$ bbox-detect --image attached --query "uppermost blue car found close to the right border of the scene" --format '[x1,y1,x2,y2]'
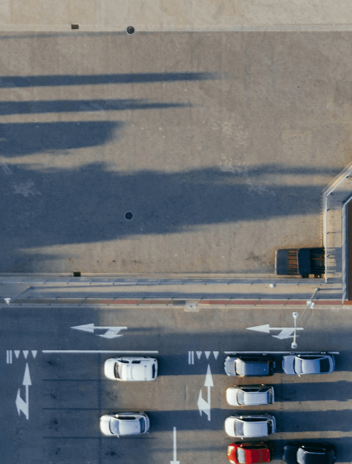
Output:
[283,351,336,378]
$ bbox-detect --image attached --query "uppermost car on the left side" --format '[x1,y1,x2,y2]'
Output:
[105,356,159,385]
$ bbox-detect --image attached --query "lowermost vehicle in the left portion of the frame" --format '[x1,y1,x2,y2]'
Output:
[100,410,153,438]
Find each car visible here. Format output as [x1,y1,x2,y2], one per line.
[228,441,273,464]
[284,441,336,464]
[283,351,336,378]
[226,383,275,409]
[224,352,275,380]
[105,356,159,385]
[100,410,153,438]
[225,412,278,439]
